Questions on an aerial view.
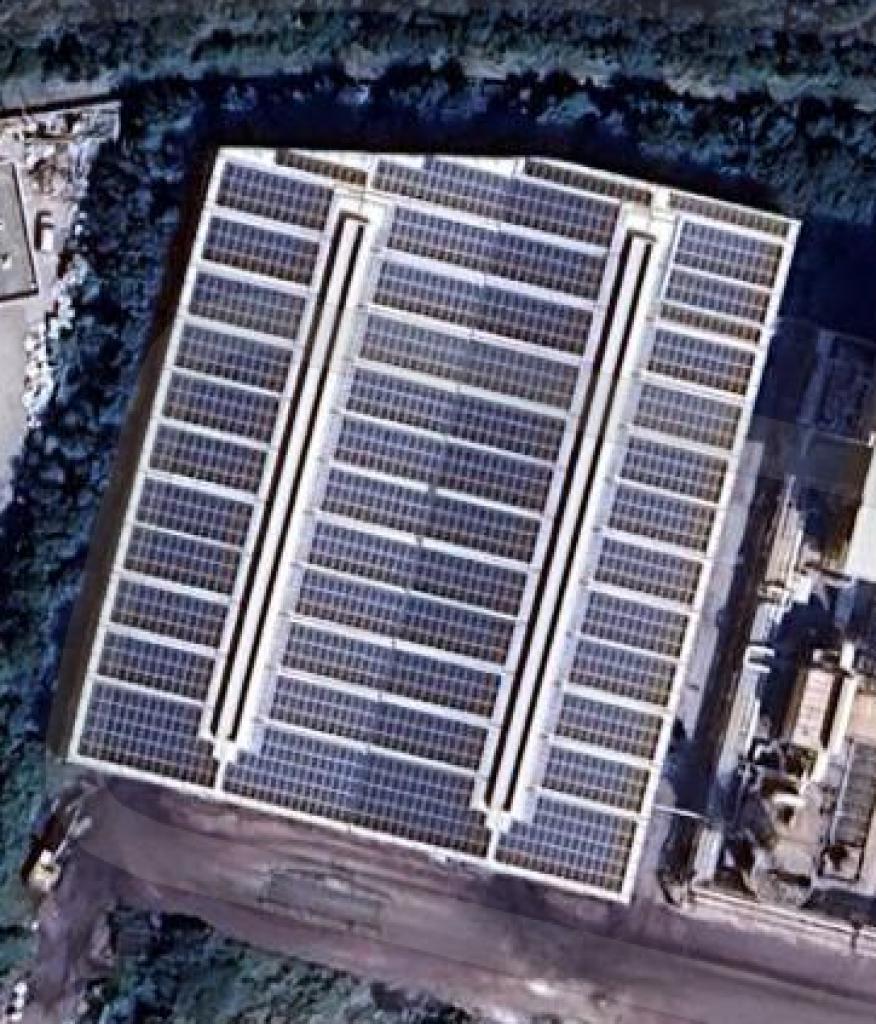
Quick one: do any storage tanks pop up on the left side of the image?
No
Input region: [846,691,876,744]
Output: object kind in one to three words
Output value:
building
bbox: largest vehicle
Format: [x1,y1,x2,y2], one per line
[26,822,86,893]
